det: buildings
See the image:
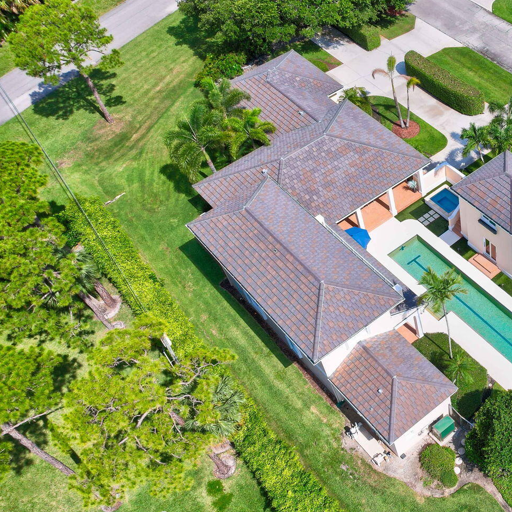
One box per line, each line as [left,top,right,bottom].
[448,148,512,279]
[185,49,459,458]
